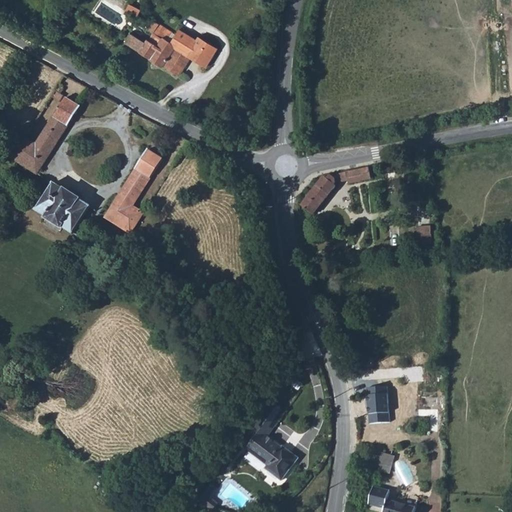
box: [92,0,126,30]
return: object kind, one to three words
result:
swimming pool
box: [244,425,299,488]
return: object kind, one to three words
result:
house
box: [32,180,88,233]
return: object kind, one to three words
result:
house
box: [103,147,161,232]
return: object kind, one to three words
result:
shed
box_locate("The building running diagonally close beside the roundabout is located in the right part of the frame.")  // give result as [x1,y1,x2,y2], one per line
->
[300,173,336,214]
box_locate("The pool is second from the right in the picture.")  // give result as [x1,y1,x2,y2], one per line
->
[218,478,252,510]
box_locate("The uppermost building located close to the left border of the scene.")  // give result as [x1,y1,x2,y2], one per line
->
[14,90,79,174]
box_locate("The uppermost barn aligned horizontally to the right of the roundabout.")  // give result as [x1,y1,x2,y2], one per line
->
[340,166,372,184]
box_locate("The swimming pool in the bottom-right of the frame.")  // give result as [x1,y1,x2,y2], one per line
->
[392,457,418,488]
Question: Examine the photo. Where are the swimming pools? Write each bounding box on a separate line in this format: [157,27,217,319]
[92,0,126,30]
[392,457,418,488]
[218,478,252,510]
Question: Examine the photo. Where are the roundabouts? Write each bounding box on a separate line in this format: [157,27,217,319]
[262,136,313,208]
